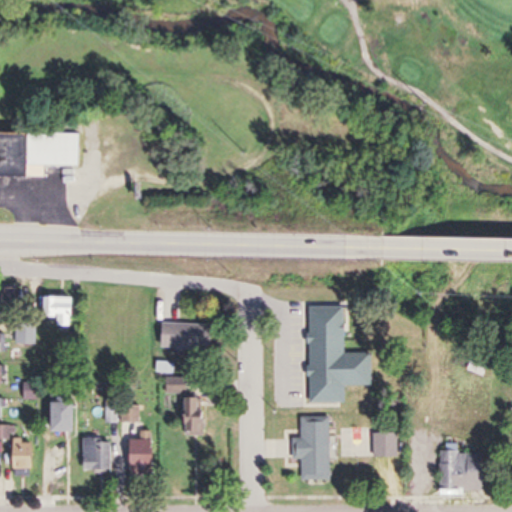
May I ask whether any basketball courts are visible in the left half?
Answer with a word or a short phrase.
No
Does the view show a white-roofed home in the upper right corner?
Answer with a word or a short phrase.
No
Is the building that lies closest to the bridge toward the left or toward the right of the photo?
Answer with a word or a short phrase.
right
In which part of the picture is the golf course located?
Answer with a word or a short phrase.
top right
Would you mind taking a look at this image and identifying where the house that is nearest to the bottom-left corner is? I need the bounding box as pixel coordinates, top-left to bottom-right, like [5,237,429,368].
[11,438,30,477]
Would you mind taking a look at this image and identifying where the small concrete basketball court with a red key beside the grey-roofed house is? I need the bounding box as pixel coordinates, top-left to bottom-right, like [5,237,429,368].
[340,428,372,458]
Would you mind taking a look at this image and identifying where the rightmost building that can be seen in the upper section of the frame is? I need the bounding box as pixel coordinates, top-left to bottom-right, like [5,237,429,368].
[26,132,79,177]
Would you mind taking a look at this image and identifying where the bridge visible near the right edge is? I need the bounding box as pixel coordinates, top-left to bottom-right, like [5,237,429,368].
[382,232,512,263]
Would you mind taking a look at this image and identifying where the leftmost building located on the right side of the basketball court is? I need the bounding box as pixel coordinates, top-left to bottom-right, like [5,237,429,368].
[372,432,398,458]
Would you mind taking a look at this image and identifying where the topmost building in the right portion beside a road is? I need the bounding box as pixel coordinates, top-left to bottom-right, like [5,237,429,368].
[308,306,372,403]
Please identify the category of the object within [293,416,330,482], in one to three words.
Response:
house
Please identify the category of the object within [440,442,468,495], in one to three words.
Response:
house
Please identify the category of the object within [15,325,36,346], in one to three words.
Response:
building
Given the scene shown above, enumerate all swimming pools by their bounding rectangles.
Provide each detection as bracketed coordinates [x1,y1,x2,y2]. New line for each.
[8,408,19,418]
[91,406,104,418]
